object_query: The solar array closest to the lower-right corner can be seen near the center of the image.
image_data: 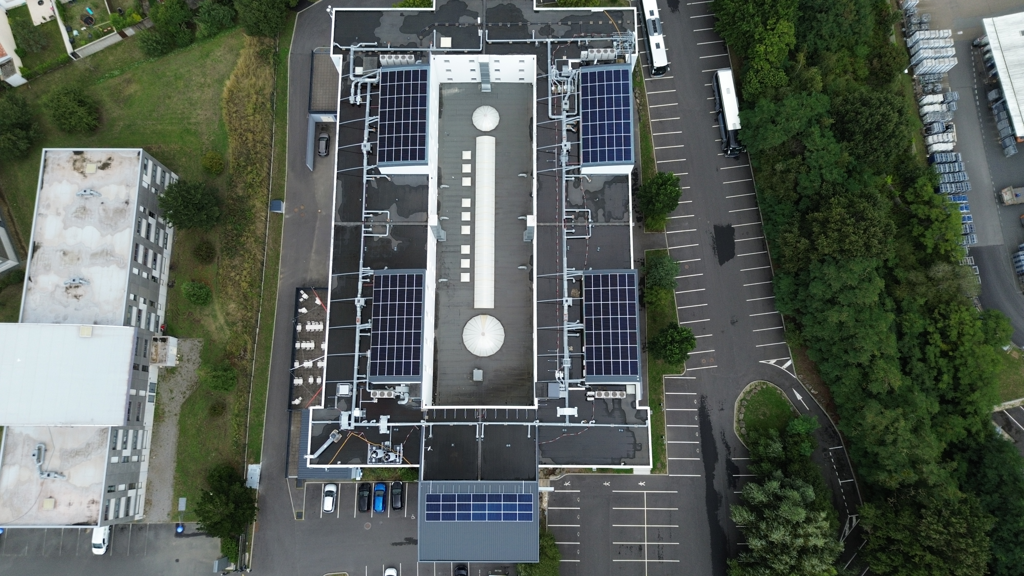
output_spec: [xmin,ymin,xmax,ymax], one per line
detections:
[584,273,638,375]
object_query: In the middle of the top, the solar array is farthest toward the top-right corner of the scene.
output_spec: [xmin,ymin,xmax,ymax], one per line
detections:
[581,69,631,164]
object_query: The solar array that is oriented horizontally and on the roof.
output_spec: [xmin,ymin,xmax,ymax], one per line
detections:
[426,480,533,521]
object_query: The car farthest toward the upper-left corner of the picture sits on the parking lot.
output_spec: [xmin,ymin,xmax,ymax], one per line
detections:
[317,134,332,158]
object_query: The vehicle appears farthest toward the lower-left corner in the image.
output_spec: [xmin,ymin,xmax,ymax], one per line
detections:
[94,524,114,557]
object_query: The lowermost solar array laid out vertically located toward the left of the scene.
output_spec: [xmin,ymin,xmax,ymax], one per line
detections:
[370,274,423,376]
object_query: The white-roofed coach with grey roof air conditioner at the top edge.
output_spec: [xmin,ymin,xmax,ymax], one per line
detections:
[637,0,669,83]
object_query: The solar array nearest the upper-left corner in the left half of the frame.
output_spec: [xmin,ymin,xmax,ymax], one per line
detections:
[378,69,428,163]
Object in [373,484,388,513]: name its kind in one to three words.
car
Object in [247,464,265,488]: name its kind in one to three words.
building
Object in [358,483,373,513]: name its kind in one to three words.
car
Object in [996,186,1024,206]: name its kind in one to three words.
vehicle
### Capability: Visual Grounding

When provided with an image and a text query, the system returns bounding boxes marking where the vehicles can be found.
[712,70,745,162]
[385,567,398,576]
[94,524,114,557]
[996,186,1024,206]
[323,484,338,513]
[373,484,388,513]
[637,0,669,83]
[390,481,405,510]
[317,134,332,158]
[454,565,469,576]
[358,483,373,513]
[1011,137,1024,146]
